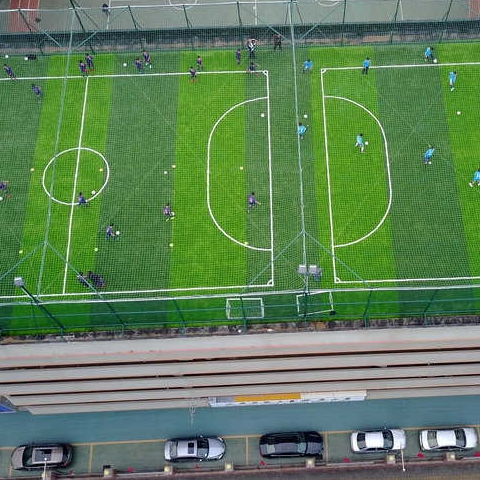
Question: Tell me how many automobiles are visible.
5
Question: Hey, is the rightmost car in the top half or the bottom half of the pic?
bottom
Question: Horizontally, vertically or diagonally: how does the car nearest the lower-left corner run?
horizontally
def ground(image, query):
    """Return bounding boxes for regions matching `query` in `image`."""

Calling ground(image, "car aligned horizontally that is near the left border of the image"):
[11,442,74,473]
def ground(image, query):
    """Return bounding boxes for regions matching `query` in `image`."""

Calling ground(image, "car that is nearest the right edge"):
[418,424,478,454]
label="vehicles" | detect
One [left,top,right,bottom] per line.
[350,425,406,455]
[418,424,478,454]
[258,429,325,460]
[164,433,227,463]
[11,442,74,473]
